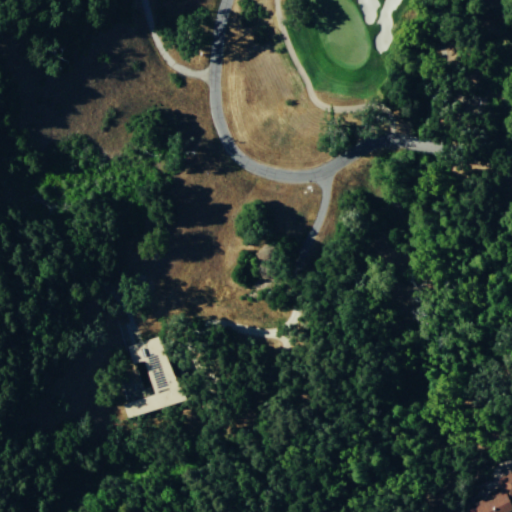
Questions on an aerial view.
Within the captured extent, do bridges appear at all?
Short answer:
No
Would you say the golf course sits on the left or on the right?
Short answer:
right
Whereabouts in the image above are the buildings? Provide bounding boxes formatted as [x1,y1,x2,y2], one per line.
[124,337,183,418]
[474,470,512,512]
[254,240,279,280]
